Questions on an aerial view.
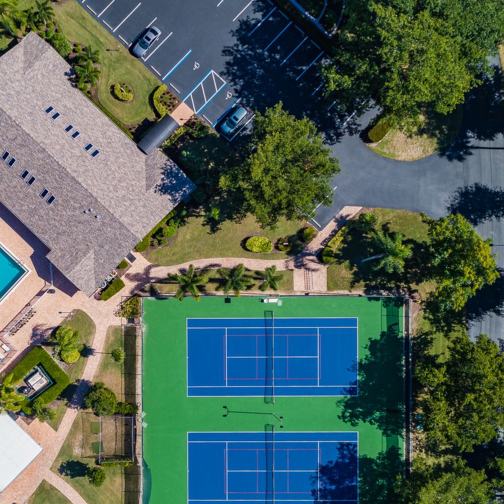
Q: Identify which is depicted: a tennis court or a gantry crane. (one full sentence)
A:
I can see a tennis court in this picture.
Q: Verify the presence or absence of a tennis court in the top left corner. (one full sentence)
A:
No, there's no tennis court to be seen in the top left corner.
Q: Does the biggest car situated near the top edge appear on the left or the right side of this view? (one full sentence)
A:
It is on the left.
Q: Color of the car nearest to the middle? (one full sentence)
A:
The car nearest to the middle is blue.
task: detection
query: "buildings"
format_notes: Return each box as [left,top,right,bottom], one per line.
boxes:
[0,412,43,493]
[0,31,195,296]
